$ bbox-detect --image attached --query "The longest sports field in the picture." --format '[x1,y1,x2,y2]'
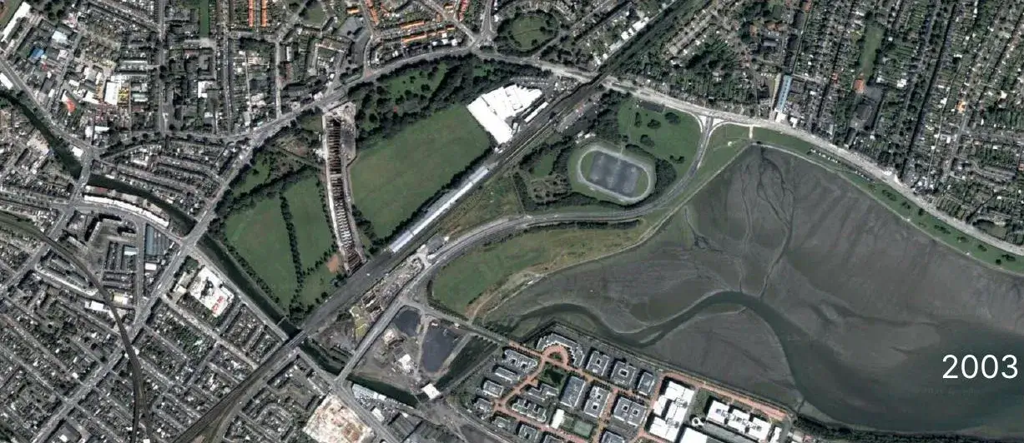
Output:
[350,103,491,250]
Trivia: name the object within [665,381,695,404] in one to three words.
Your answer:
building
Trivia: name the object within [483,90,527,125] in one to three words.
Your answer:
building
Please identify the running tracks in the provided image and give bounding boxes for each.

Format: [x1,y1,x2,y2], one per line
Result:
[575,144,657,205]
